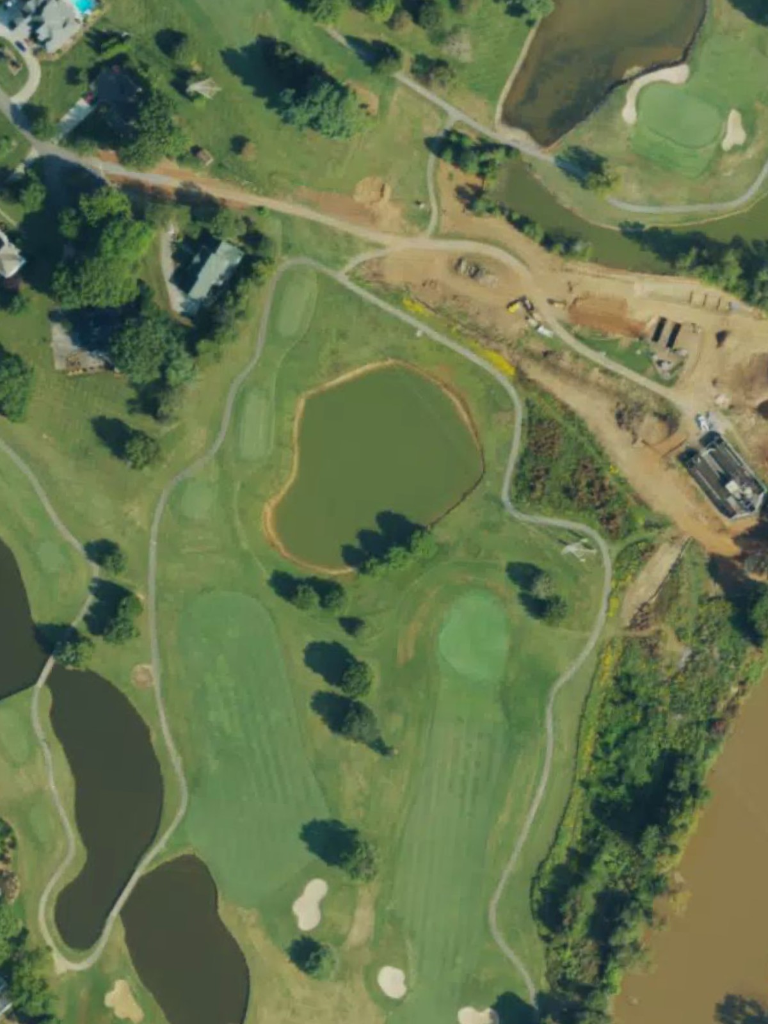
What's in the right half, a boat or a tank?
tank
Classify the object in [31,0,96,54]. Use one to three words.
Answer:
house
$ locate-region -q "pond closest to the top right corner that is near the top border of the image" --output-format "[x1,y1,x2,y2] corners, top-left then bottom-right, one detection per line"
[502,0,705,147]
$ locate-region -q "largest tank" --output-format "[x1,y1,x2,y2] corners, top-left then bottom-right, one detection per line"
[683,433,765,520]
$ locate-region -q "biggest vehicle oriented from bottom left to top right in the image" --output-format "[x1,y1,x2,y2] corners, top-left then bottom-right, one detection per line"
[507,299,528,314]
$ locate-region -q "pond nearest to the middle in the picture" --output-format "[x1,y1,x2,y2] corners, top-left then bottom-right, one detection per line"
[271,363,483,570]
